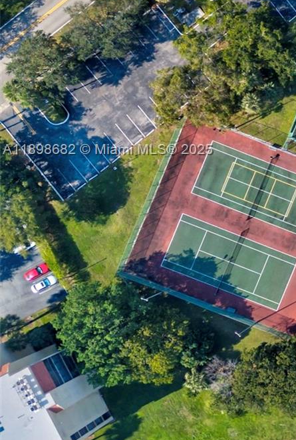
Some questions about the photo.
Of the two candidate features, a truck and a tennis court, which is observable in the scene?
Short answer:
tennis court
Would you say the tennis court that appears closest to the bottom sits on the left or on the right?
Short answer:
right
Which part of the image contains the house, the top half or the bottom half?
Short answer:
bottom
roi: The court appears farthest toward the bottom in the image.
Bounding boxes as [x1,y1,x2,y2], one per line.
[125,193,296,329]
